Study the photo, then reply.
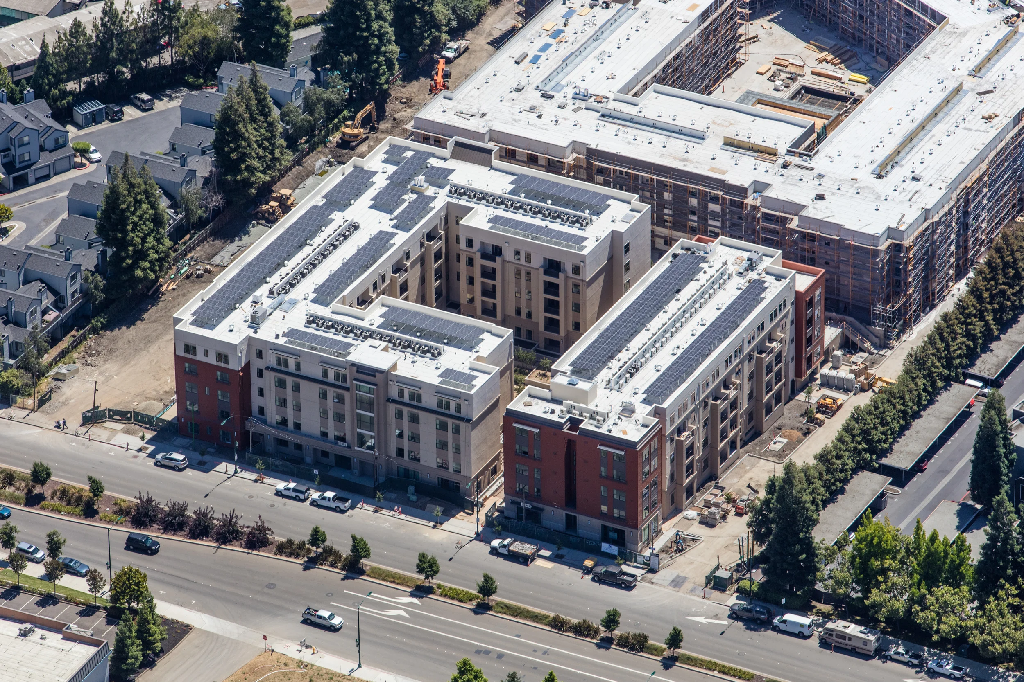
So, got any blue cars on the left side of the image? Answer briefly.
Yes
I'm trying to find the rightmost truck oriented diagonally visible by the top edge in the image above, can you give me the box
[440,23,473,61]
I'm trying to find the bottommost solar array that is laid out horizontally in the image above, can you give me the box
[437,368,479,389]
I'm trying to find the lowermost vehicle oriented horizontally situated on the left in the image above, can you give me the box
[299,607,348,632]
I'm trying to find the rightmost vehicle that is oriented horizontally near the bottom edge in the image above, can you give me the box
[920,657,970,680]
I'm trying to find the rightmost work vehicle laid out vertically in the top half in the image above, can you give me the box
[431,61,449,98]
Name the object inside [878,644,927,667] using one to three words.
truck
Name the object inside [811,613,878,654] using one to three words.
camper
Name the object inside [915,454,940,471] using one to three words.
vehicle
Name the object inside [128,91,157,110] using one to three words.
car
